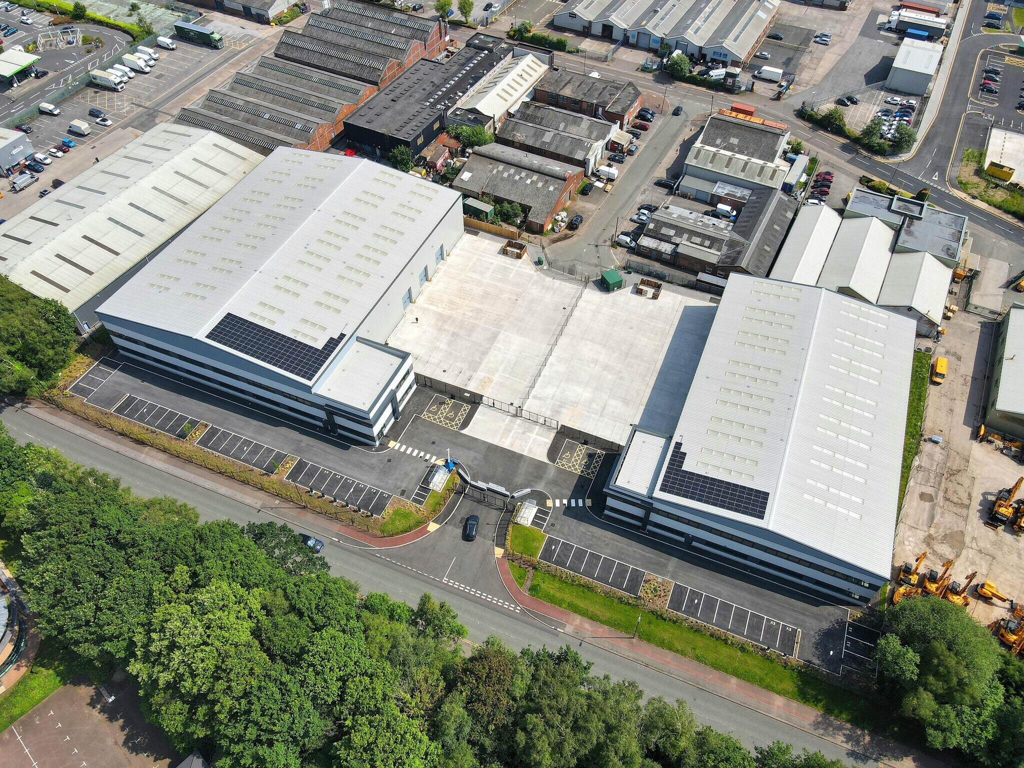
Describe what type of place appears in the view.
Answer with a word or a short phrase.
industrial area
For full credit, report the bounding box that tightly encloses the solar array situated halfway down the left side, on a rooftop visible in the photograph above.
[205,312,345,379]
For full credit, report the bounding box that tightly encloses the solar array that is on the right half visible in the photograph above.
[660,441,773,519]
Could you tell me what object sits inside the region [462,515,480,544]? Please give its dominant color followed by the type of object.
black car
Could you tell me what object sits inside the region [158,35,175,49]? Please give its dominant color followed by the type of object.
white vehicle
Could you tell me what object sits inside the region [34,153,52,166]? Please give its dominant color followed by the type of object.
white vehicle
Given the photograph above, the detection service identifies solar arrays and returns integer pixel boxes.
[660,441,773,519]
[205,312,345,379]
